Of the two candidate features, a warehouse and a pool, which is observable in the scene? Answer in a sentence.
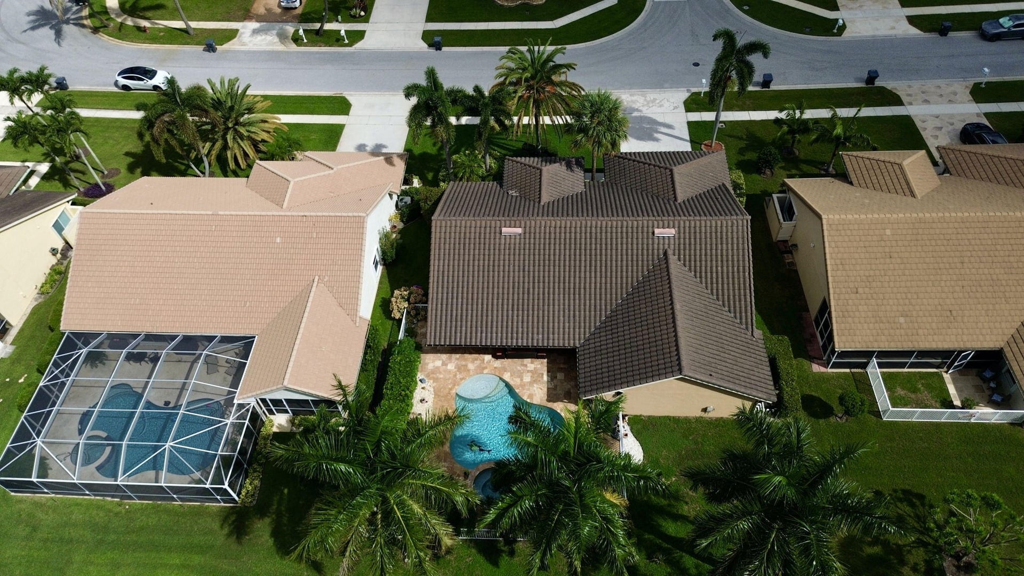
It is a pool that can be seen here.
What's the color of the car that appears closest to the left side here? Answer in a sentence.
The car that appears closest to the left side looks white in the image.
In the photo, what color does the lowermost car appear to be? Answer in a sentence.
The lowermost car looks black in the image.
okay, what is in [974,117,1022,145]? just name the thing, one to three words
car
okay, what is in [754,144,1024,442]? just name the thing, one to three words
house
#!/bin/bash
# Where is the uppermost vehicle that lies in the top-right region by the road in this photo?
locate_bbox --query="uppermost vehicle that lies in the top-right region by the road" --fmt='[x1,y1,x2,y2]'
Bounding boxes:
[980,12,1024,40]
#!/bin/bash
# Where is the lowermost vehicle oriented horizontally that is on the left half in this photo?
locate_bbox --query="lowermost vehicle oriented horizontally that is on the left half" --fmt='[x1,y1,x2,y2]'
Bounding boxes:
[114,64,174,90]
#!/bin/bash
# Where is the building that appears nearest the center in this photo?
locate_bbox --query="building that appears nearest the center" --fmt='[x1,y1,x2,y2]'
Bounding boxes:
[427,151,776,417]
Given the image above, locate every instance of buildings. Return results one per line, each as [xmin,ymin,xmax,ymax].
[58,151,409,417]
[754,144,1024,442]
[427,151,776,417]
